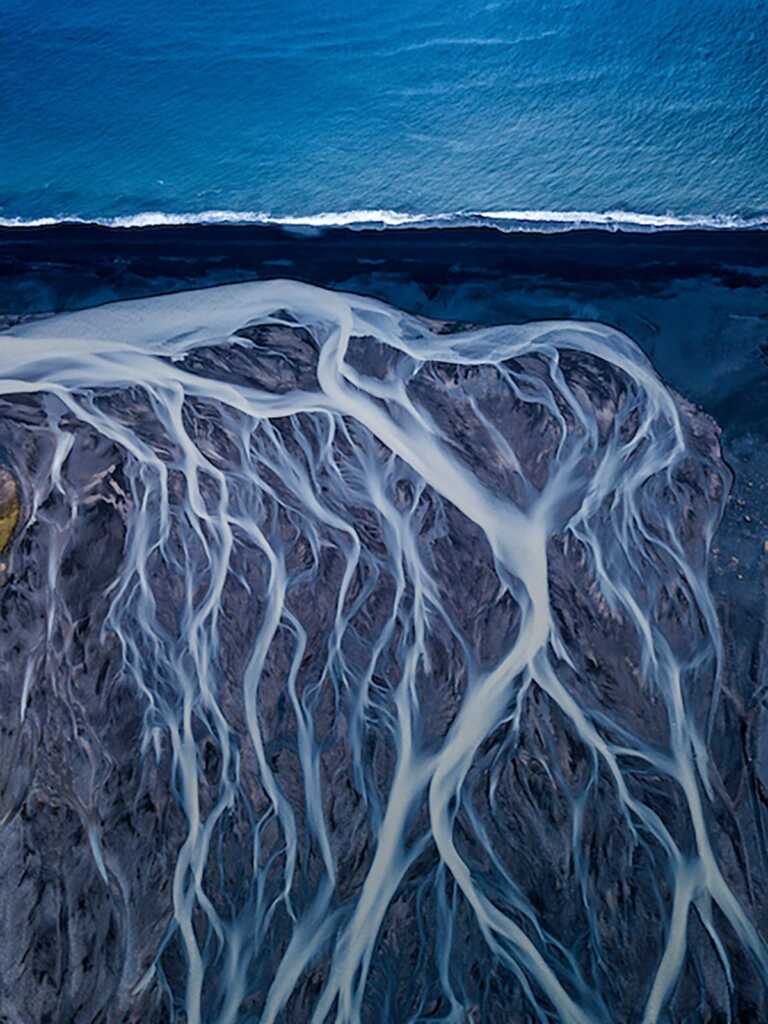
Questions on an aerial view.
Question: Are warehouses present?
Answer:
No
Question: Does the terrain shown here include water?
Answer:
Yes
